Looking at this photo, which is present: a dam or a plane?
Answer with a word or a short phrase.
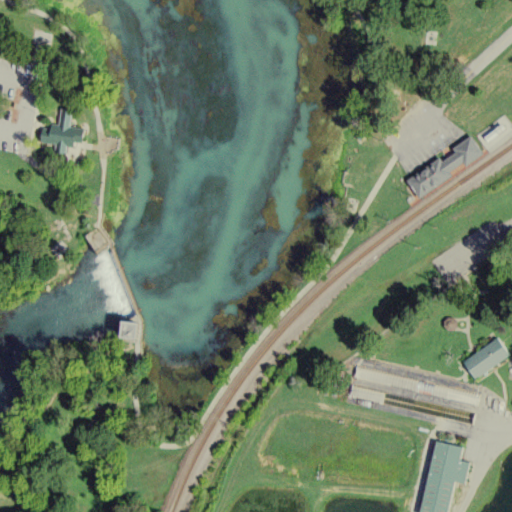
dam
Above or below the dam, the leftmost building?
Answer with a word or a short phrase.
above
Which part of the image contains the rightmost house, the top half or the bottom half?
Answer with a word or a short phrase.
bottom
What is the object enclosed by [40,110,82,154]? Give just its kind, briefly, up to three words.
building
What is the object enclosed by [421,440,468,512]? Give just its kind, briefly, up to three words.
building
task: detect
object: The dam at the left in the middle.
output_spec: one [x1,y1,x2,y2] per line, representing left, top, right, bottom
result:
[59,243,145,350]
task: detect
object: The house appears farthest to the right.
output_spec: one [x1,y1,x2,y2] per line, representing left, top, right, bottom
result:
[466,340,509,378]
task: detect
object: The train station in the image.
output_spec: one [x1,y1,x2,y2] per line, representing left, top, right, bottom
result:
[405,134,484,198]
